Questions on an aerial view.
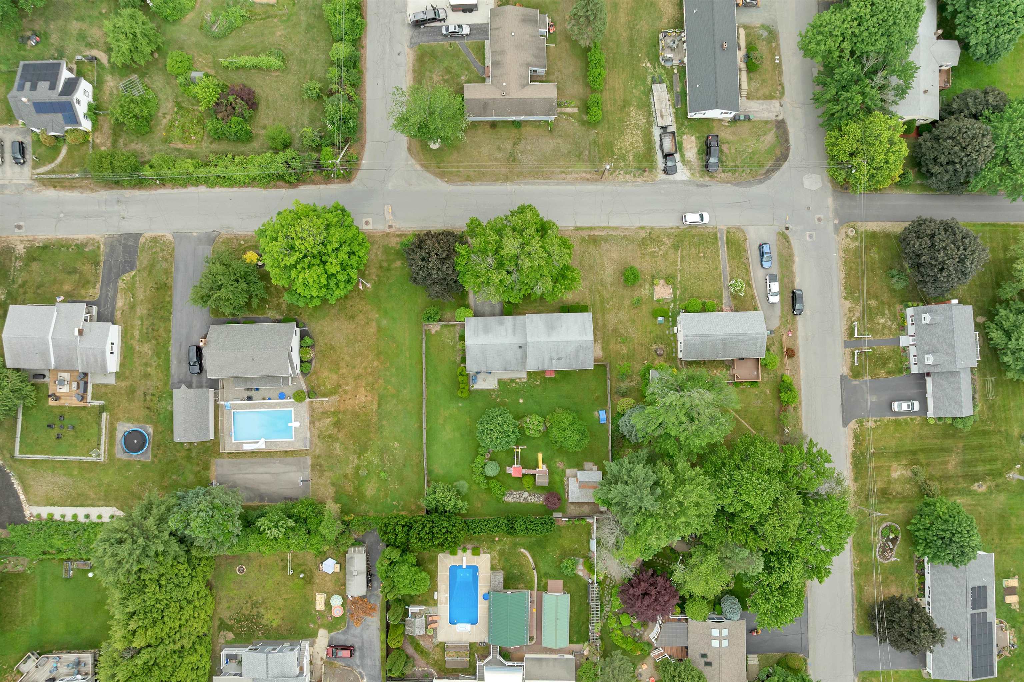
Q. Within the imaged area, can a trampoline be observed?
Yes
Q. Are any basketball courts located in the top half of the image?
No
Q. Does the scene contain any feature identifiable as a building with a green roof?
Yes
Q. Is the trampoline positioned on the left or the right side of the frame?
left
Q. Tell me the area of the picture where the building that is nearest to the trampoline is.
left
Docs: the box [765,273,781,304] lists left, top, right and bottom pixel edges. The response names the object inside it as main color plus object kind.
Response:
white vehicle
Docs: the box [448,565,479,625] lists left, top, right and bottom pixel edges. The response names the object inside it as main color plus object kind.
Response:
blue swimming pool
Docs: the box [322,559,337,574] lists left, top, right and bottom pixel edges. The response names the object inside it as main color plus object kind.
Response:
white umbrella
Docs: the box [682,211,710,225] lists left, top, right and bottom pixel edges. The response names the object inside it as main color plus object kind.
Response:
white car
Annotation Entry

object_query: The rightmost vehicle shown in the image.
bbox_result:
[890,400,919,413]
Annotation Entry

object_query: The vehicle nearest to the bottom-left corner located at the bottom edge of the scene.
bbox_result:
[326,645,354,659]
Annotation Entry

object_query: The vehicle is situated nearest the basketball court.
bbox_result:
[188,346,203,374]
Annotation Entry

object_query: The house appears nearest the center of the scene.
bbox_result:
[465,312,594,377]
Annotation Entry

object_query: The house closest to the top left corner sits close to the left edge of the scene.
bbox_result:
[0,60,95,138]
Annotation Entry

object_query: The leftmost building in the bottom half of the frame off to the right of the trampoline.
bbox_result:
[173,384,216,443]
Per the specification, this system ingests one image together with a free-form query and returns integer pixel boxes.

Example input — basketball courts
[216,457,310,503]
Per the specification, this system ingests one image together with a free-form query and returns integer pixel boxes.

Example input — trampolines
[117,429,150,456]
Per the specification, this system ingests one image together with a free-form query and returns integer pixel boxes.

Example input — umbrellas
[332,605,344,618]
[330,594,343,607]
[322,559,337,574]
